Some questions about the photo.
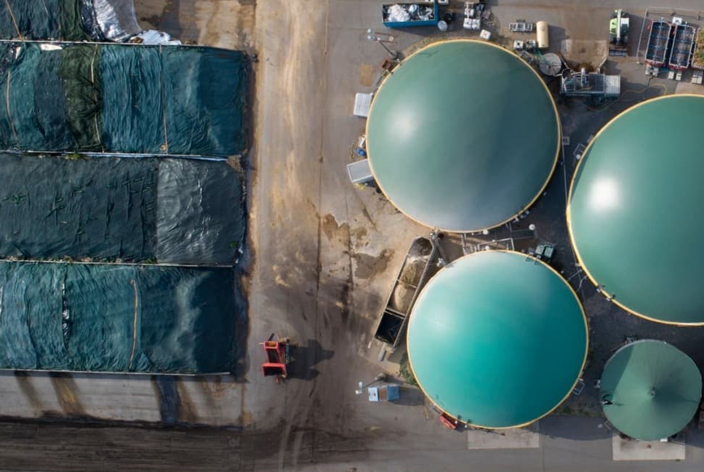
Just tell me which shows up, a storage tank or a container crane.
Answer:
storage tank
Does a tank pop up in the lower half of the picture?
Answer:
Yes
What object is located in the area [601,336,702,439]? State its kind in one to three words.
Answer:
storage tank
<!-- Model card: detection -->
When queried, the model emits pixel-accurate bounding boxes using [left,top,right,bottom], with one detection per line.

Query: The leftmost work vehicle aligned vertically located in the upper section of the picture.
[609,8,628,61]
